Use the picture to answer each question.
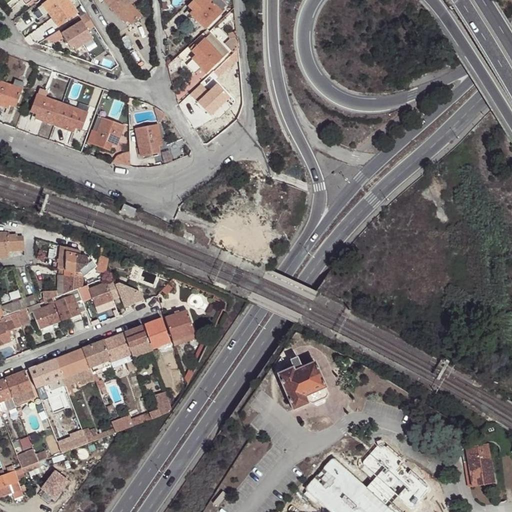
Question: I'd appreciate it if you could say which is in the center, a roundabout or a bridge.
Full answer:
It is a bridge that can be seen in the center.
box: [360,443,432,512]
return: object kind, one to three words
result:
building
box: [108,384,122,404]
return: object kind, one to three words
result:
swimming pool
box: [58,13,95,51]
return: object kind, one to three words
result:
house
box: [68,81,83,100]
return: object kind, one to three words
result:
swimming pool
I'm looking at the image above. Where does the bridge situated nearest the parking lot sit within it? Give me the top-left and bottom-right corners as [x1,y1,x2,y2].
[238,258,327,330]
